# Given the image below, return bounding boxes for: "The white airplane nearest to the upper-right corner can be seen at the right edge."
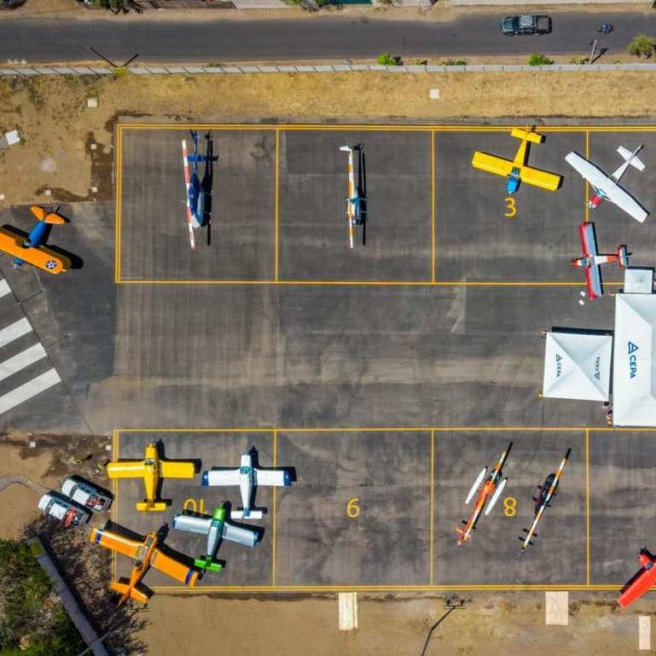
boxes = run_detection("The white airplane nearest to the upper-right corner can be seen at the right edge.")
[566,148,648,223]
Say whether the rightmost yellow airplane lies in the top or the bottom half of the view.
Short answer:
top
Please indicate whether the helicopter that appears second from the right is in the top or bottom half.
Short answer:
bottom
